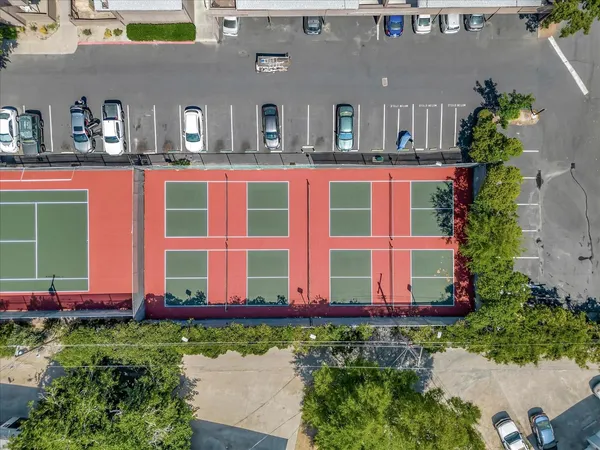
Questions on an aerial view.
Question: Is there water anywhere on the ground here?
No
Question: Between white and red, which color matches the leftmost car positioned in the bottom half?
white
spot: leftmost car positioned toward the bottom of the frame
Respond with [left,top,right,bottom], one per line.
[496,421,526,450]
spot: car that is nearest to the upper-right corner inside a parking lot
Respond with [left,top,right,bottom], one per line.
[464,16,483,32]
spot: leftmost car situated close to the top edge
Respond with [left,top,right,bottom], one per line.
[223,16,240,36]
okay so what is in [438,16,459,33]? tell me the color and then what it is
white car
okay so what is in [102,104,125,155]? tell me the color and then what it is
white truck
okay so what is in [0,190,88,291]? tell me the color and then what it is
green tennis court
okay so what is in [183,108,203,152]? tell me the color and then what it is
white car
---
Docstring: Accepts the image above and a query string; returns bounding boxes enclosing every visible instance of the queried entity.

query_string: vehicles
[183,108,203,152]
[335,106,356,151]
[384,16,402,36]
[0,107,18,154]
[464,16,483,32]
[261,106,281,151]
[496,421,526,450]
[72,109,101,152]
[529,419,559,450]
[413,16,431,33]
[19,113,45,155]
[438,16,459,33]
[305,16,321,33]
[223,16,240,36]
[102,104,125,155]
